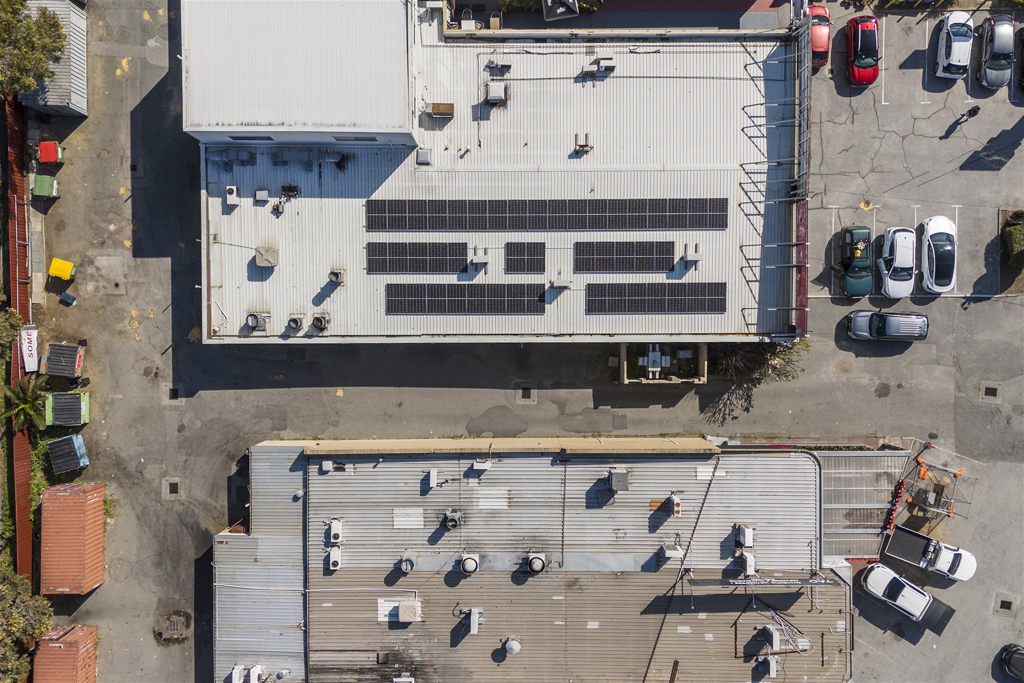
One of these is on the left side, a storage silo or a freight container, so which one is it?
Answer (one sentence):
The one visible on the left side is a freight container.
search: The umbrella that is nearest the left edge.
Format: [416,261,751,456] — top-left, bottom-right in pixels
[545,0,579,21]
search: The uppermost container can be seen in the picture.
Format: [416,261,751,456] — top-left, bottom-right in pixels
[41,482,103,594]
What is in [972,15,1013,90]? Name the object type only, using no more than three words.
car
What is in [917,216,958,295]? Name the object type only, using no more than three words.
car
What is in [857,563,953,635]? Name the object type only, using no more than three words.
truck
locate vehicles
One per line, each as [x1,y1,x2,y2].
[826,225,876,297]
[932,12,973,81]
[857,563,953,635]
[844,309,931,343]
[798,7,834,69]
[874,226,918,299]
[917,216,958,295]
[1016,25,1024,97]
[841,15,881,89]
[972,15,1013,90]
[882,523,971,581]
